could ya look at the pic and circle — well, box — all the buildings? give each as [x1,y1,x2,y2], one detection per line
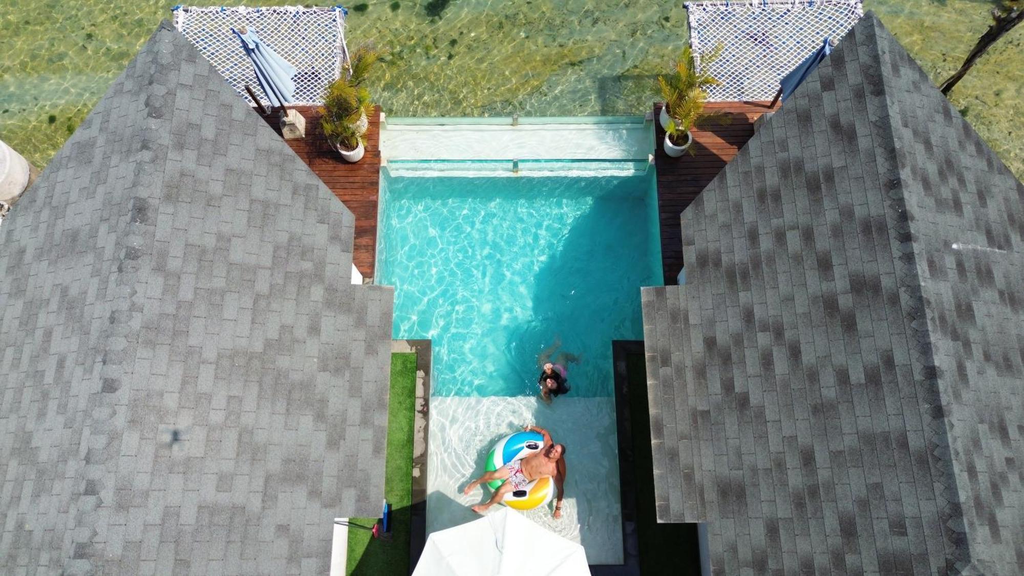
[0,20,397,576]
[641,10,1024,576]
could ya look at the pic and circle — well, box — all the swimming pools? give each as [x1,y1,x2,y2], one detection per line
[380,163,658,564]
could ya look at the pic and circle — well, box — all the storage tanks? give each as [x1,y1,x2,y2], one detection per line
[0,136,34,207]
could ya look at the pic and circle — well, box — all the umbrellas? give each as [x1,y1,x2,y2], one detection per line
[411,508,588,576]
[231,23,313,146]
[754,39,837,133]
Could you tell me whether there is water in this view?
Yes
